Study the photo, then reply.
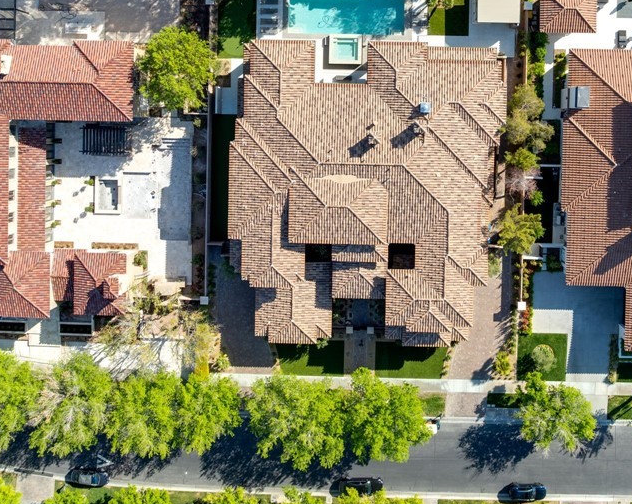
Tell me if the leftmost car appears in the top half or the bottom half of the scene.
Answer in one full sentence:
You can find the leftmost car in the bottom half.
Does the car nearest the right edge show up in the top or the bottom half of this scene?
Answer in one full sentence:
The car nearest the right edge sits in the bottom half of the picture.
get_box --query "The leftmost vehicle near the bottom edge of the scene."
[67,465,109,488]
